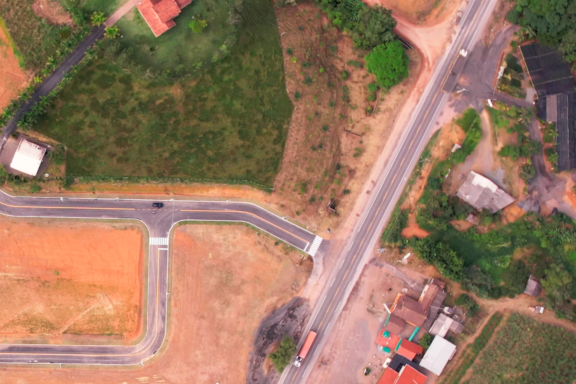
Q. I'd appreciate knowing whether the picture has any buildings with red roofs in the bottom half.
Yes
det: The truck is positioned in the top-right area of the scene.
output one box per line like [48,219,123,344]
[441,50,467,93]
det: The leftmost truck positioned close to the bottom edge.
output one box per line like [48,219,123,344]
[292,330,316,367]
